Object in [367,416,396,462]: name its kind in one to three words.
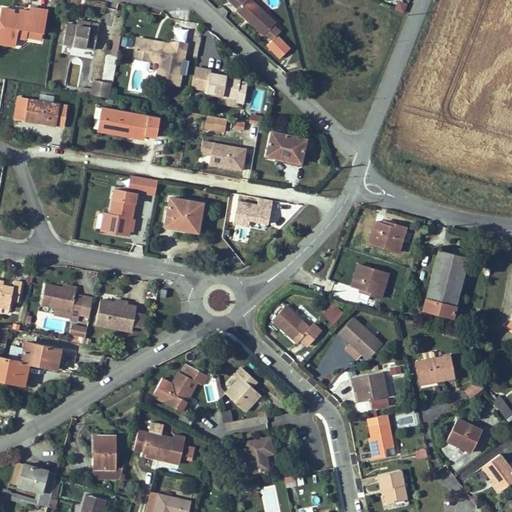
house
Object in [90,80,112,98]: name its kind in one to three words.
building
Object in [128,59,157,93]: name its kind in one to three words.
swimming pool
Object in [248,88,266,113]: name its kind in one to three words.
swimming pool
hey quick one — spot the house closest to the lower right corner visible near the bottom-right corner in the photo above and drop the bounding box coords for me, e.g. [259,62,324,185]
[481,456,512,494]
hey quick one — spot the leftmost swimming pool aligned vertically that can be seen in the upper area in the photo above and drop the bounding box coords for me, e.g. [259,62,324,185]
[66,57,83,89]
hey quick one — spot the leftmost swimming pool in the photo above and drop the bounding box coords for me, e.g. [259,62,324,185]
[36,311,72,334]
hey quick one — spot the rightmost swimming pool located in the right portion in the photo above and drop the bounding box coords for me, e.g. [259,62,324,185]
[395,412,418,428]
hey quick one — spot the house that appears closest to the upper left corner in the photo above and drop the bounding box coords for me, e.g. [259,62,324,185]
[0,6,46,48]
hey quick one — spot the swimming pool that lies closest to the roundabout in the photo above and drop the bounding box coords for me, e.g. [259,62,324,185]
[233,227,250,244]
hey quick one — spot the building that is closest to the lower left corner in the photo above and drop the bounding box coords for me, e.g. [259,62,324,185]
[9,463,51,510]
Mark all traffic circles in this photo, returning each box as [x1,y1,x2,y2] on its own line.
[193,270,236,323]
